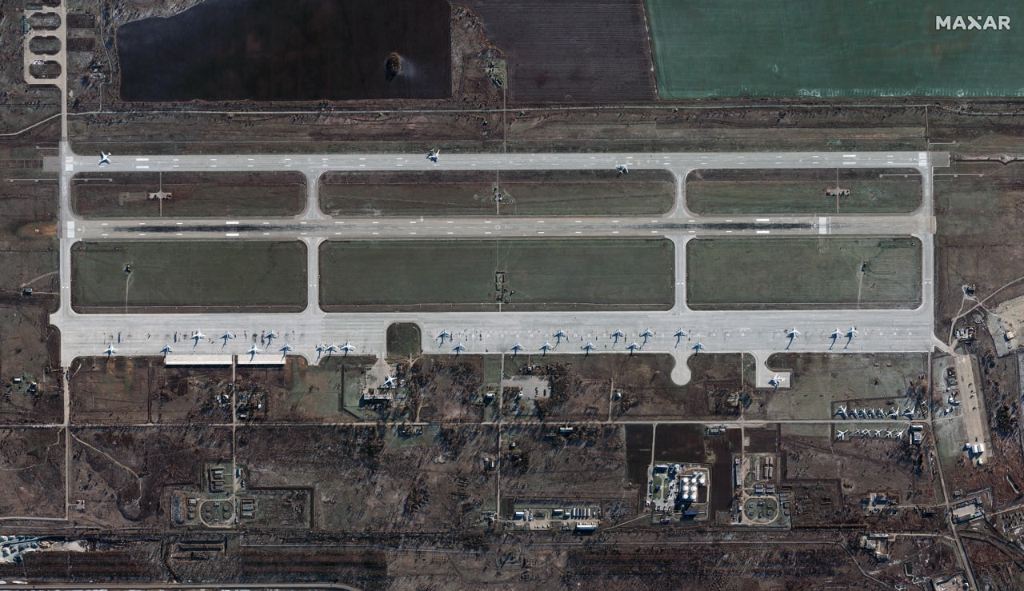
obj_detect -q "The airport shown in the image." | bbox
[24,0,988,465]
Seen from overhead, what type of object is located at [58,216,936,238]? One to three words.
runway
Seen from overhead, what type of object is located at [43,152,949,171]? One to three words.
runway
